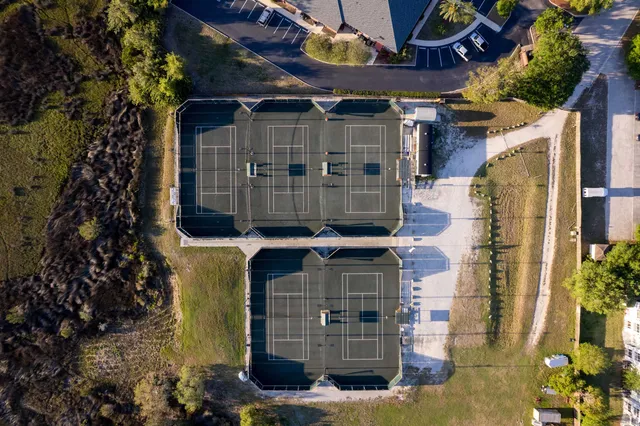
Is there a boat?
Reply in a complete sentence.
No, I can see no boat in this picture.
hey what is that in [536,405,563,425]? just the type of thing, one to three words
shed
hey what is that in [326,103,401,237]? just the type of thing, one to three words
tennis court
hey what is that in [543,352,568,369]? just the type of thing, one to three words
shed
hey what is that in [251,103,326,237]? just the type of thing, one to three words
tennis court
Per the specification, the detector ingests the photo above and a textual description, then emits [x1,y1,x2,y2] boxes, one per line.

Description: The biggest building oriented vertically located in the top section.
[416,121,433,177]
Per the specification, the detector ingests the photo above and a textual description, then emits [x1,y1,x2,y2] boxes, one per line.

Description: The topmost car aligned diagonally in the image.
[258,9,273,26]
